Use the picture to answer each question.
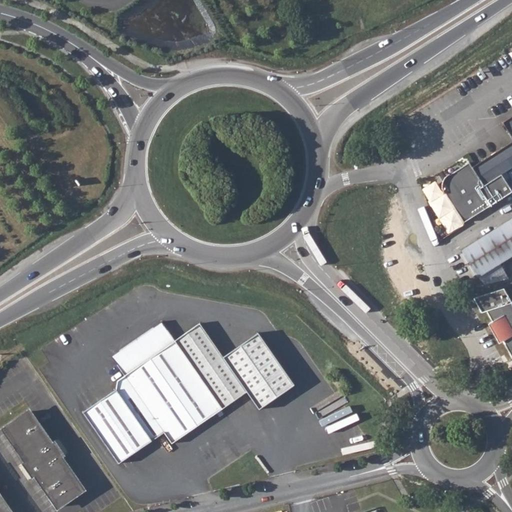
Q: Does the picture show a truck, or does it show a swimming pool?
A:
truck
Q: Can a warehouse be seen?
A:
Yes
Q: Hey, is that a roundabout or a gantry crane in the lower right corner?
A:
roundabout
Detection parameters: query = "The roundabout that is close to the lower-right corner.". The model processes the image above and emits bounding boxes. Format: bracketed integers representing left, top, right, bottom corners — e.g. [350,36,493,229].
[412,394,504,486]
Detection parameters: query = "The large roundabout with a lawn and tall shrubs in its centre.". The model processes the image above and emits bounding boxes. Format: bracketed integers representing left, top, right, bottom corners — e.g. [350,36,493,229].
[127,66,327,266]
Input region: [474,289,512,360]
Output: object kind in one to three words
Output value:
house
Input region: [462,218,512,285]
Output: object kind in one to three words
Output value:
building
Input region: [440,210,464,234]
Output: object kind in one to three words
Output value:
tent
